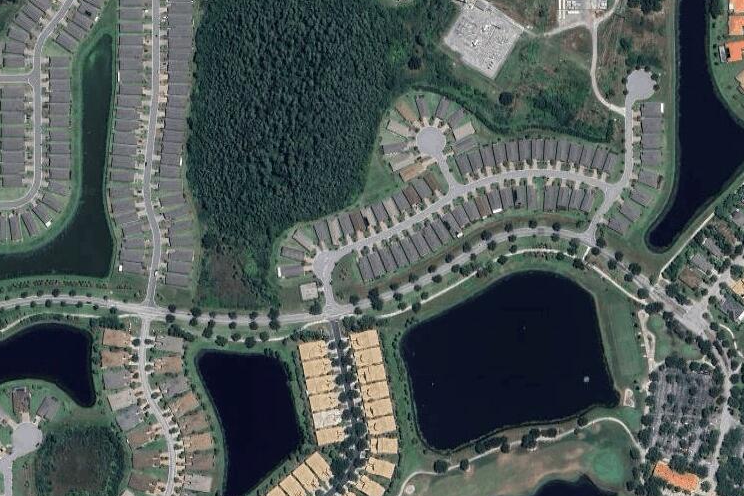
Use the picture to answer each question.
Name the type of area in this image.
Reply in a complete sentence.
This image shows a residential area.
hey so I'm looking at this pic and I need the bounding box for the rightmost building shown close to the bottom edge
[652,462,700,491]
